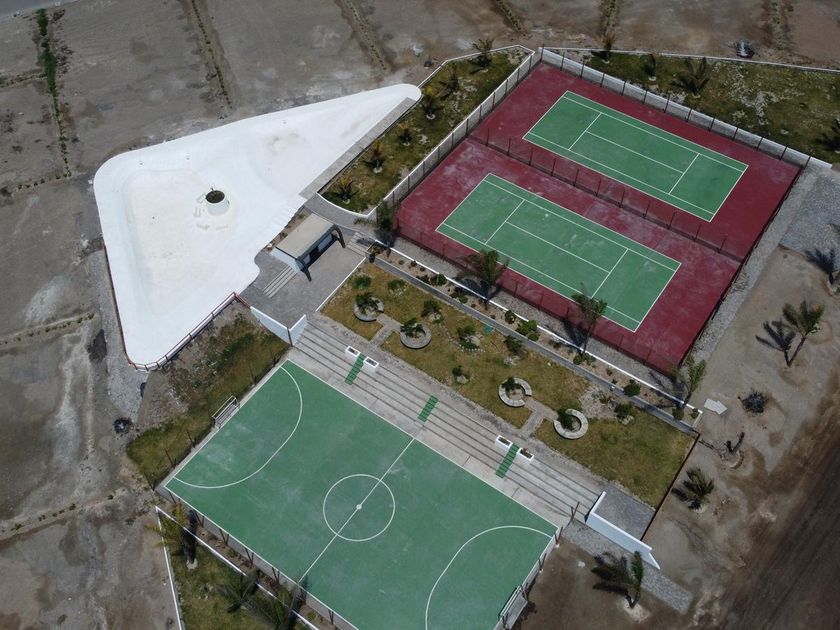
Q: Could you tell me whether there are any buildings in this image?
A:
Yes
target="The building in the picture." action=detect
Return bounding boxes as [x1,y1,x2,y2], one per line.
[267,214,346,283]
